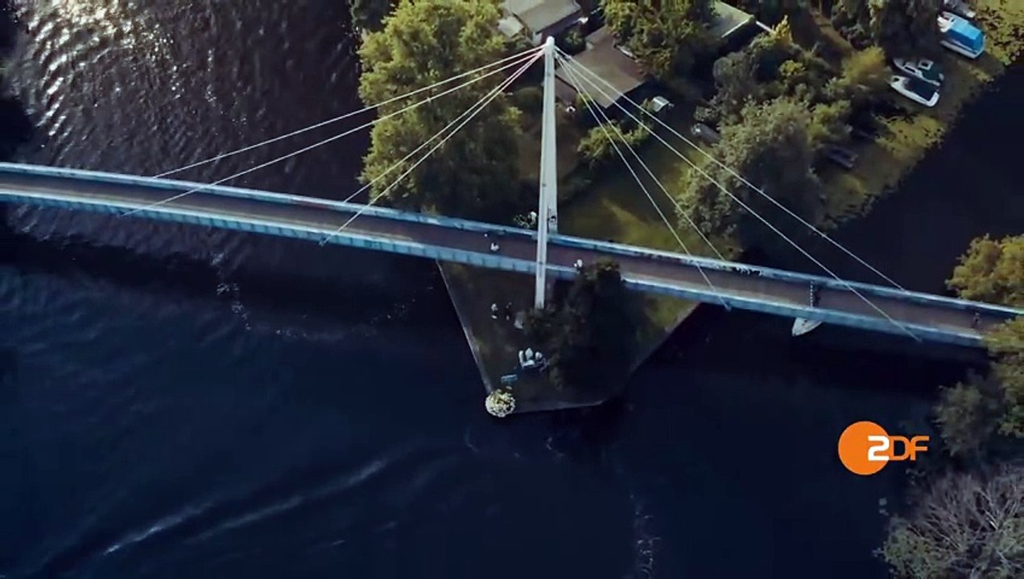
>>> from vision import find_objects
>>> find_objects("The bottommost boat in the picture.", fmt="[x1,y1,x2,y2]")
[794,322,817,340]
